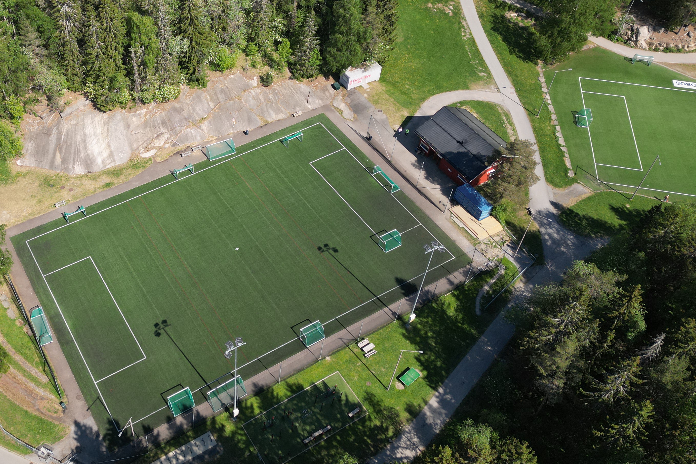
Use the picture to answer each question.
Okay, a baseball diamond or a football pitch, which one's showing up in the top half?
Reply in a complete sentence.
There is a football pitch in the top half.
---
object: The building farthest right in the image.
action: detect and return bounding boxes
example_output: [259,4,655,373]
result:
[411,104,520,184]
